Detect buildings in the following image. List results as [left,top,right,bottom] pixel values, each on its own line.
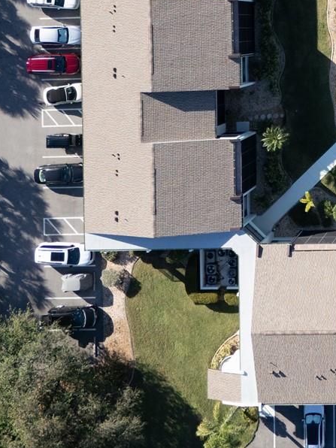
[80,0,260,238]
[251,228,336,405]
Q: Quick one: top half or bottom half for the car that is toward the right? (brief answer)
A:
bottom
